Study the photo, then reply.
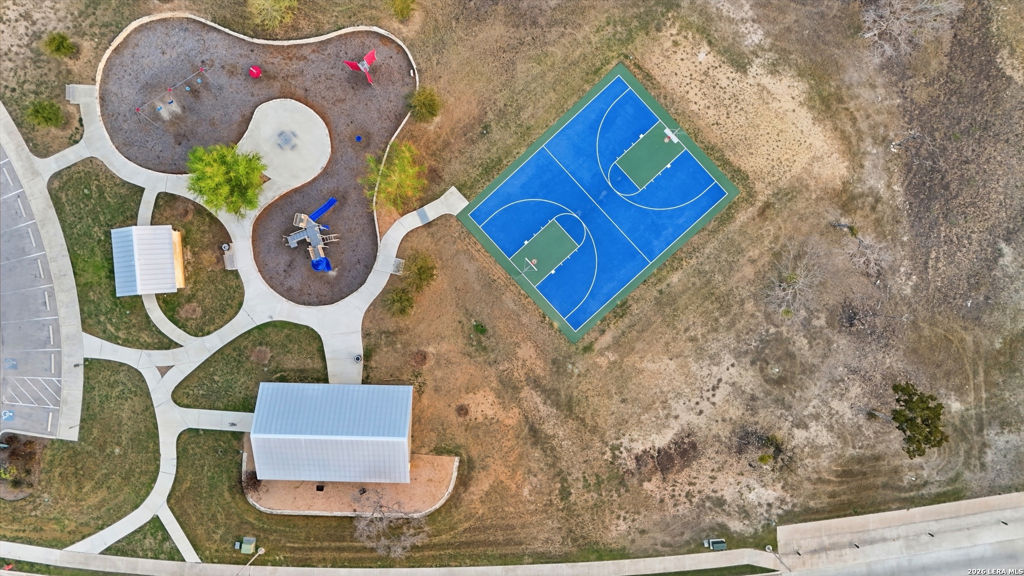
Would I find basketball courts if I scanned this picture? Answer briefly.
Yes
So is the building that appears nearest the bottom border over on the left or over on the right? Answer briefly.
left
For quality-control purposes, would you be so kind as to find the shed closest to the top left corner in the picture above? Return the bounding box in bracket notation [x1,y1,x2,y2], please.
[111,224,188,297]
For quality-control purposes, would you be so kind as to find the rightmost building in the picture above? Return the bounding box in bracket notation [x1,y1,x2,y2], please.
[248,382,415,484]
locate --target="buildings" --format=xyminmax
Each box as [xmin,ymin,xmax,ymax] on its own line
[248,382,415,484]
[111,224,188,297]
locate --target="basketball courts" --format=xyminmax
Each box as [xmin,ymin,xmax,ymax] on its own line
[459,62,740,343]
